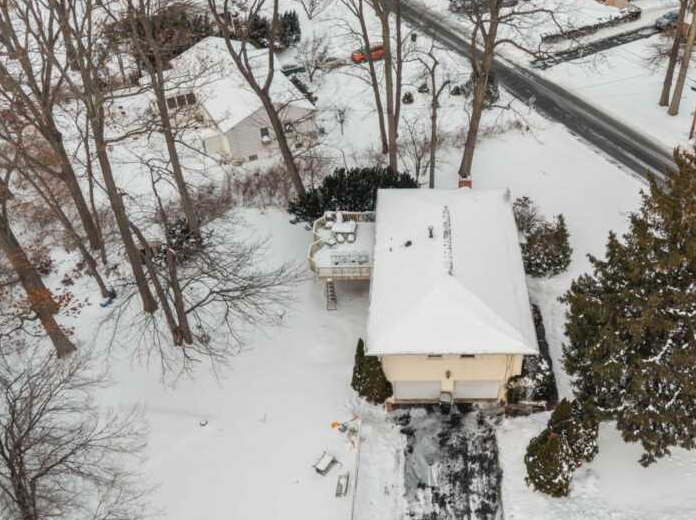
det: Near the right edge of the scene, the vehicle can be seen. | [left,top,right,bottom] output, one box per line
[649,11,677,33]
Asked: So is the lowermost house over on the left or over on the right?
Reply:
right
